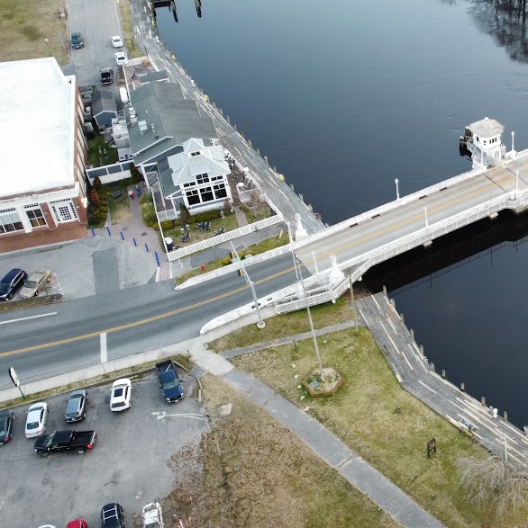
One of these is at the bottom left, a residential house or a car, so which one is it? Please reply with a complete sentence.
The feature located at the bottom left is a car.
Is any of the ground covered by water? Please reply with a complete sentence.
Yes, the picture does contain water.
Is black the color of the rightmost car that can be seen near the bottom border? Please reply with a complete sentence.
No, the rightmost car that can be seen near the bottom border is actually white.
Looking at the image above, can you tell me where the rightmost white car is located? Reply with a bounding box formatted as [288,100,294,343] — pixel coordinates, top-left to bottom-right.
[140,498,163,528]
